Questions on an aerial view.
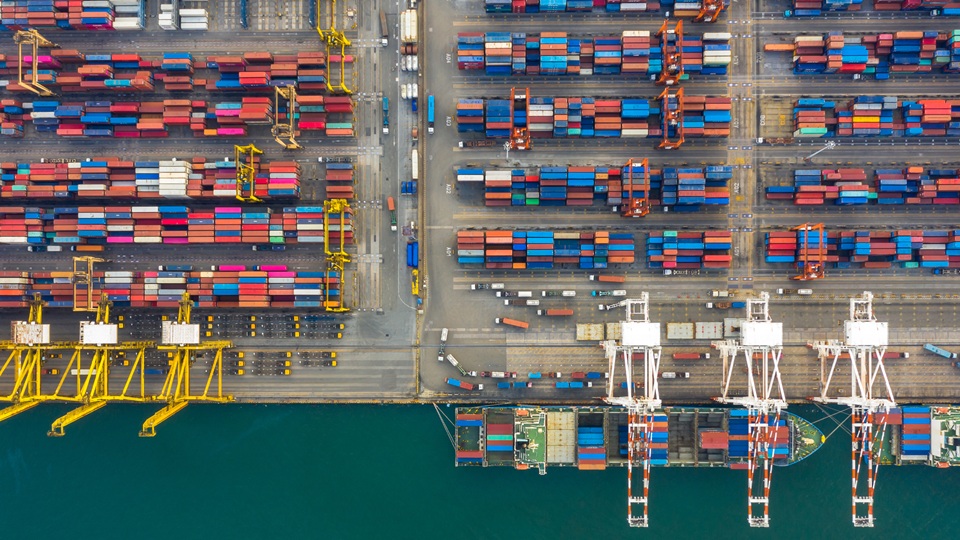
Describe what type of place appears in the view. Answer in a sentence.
The area seen from above is a port.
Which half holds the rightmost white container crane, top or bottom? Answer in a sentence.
You can find the rightmost white container crane in the bottom half.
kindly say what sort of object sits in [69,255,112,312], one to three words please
container crane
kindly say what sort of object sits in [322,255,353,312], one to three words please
container crane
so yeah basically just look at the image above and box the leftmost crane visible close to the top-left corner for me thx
[14,29,59,96]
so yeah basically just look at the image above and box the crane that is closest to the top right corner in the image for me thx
[689,0,723,22]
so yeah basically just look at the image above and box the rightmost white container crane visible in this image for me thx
[802,289,896,530]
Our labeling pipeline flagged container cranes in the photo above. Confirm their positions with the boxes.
[69,255,112,312]
[654,85,686,149]
[597,289,659,530]
[273,84,305,149]
[619,156,650,217]
[14,29,59,96]
[233,142,267,202]
[506,85,533,149]
[689,0,723,22]
[135,289,236,442]
[802,289,896,530]
[0,289,100,429]
[323,27,354,94]
[322,255,353,312]
[322,197,353,256]
[652,19,685,85]
[43,289,161,442]
[788,222,826,280]
[707,289,786,530]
